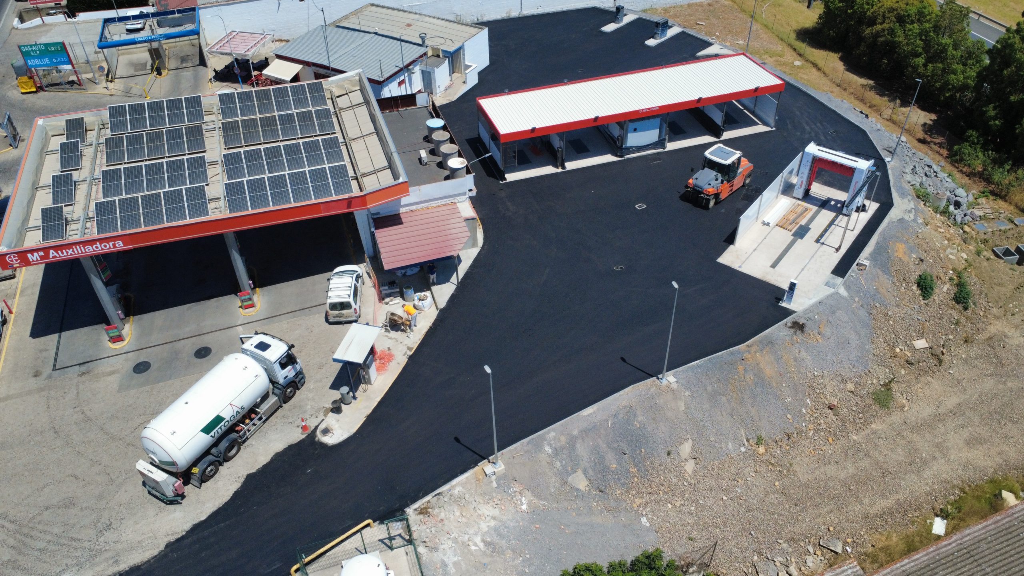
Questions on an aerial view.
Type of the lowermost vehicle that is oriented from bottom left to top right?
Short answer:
truck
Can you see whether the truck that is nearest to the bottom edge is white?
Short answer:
Yes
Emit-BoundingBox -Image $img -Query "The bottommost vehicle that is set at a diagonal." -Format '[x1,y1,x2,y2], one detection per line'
[134,334,306,509]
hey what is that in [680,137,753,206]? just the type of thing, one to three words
work vehicle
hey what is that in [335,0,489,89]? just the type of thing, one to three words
building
